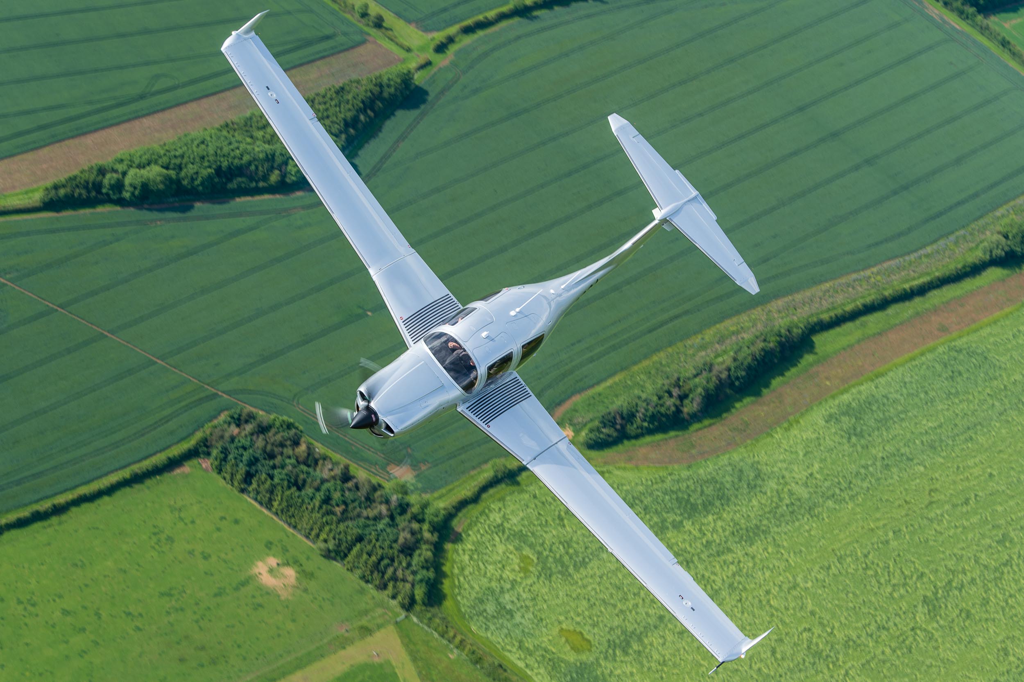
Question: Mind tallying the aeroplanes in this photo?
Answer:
one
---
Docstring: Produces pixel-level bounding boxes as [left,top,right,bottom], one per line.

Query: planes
[220,8,776,679]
